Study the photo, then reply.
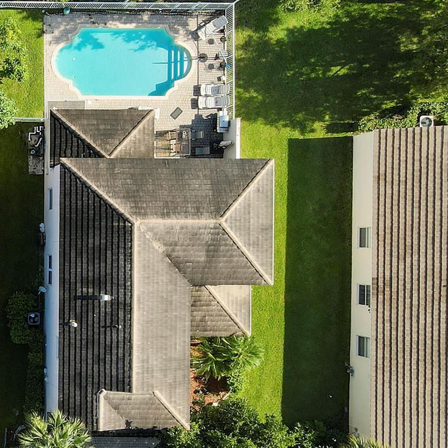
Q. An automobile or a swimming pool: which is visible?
swimming pool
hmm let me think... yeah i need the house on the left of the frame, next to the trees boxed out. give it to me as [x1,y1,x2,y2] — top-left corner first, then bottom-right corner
[42,99,276,435]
